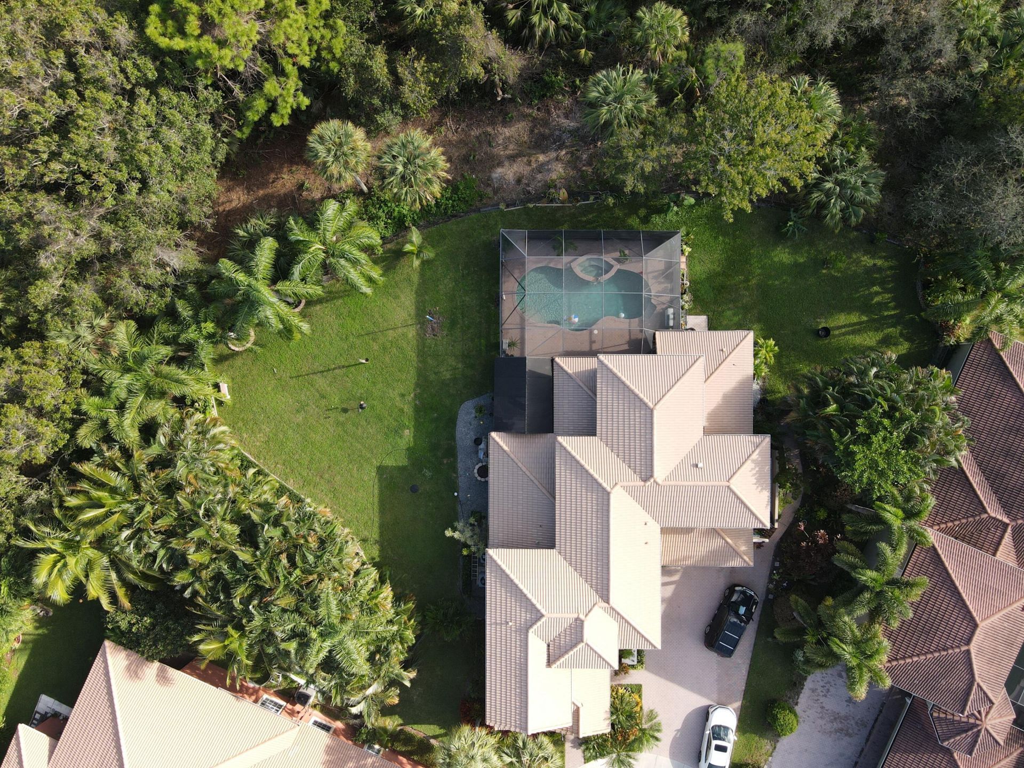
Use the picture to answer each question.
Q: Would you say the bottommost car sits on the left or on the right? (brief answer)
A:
right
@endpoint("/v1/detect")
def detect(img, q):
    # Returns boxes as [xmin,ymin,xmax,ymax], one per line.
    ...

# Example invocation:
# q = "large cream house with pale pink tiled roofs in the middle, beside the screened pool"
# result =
[484,329,772,739]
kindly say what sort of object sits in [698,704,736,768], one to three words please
car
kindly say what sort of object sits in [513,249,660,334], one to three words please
swimming pool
